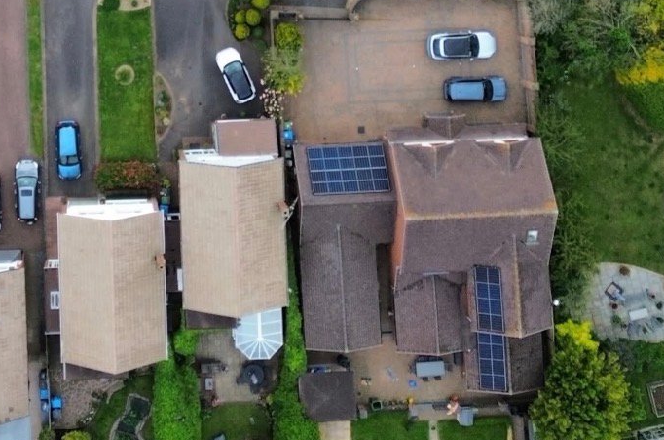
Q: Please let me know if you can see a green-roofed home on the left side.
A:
No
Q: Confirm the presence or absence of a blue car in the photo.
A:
Yes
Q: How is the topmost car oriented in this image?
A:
from left to right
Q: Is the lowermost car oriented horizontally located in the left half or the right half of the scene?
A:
right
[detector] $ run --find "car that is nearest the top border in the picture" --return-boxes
[425,29,495,63]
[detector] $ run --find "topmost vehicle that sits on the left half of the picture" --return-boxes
[218,45,255,106]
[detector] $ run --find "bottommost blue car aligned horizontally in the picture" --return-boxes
[442,74,507,106]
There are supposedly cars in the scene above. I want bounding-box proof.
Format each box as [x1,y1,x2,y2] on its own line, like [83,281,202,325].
[442,74,507,106]
[425,29,495,63]
[218,45,255,106]
[10,159,42,224]
[53,119,85,179]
